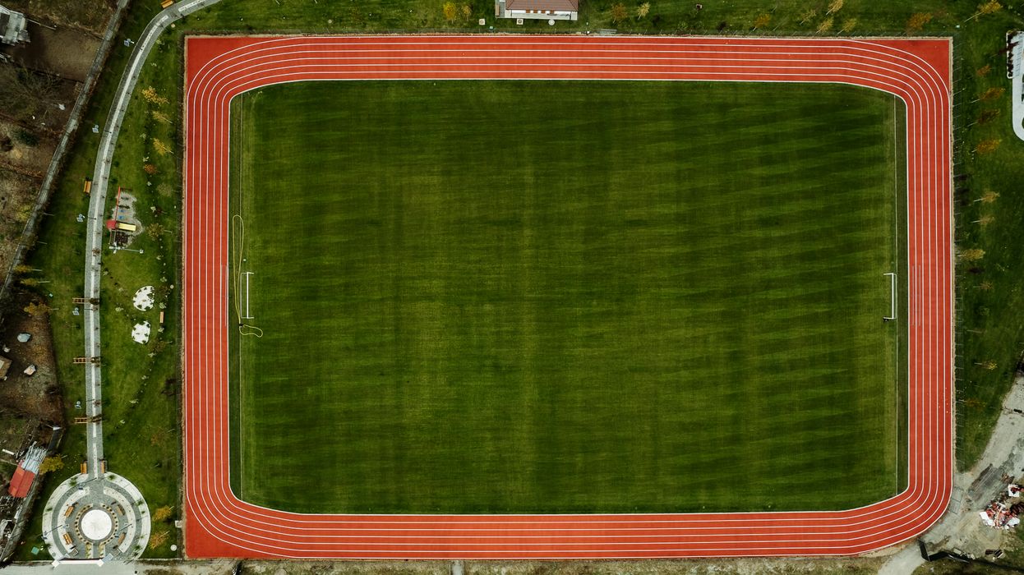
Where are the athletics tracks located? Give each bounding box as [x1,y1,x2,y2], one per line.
[185,35,954,560]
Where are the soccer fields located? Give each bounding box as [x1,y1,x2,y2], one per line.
[230,80,908,515]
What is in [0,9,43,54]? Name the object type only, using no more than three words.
house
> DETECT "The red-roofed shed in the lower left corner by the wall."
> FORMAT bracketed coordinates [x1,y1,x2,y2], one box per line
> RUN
[8,463,37,498]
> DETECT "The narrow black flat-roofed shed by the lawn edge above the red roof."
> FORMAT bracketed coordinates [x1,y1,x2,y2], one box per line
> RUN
[47,426,70,455]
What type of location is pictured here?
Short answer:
sports ground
